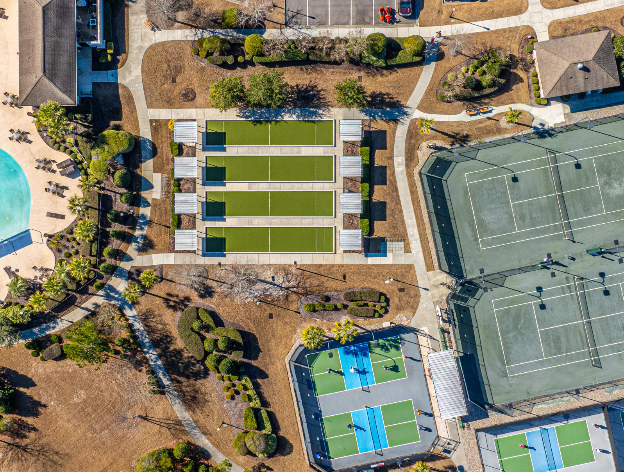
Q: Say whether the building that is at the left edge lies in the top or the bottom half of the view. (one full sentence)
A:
The building that is at the left edge sits in the top half of the picture.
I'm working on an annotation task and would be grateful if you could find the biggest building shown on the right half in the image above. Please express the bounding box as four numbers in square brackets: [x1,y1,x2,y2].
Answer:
[535,30,619,99]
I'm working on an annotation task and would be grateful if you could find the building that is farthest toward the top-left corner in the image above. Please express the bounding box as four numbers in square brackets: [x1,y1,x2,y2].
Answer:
[17,0,79,107]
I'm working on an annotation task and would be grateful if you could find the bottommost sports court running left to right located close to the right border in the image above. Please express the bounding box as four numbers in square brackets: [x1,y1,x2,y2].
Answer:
[476,404,617,472]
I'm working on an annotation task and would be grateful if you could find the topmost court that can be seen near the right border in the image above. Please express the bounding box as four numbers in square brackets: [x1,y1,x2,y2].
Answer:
[421,115,624,278]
